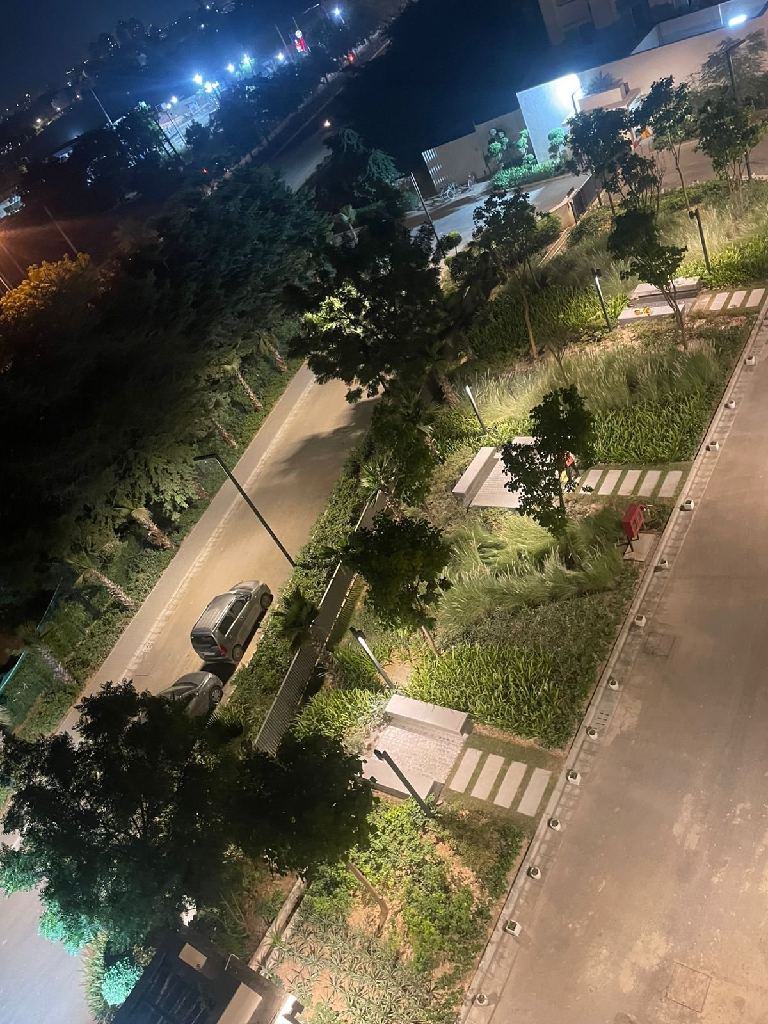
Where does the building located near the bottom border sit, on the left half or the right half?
left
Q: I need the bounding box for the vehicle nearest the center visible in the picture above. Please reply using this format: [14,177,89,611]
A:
[182,579,267,668]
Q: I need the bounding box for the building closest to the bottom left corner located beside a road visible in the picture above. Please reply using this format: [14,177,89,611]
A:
[113,924,292,1024]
